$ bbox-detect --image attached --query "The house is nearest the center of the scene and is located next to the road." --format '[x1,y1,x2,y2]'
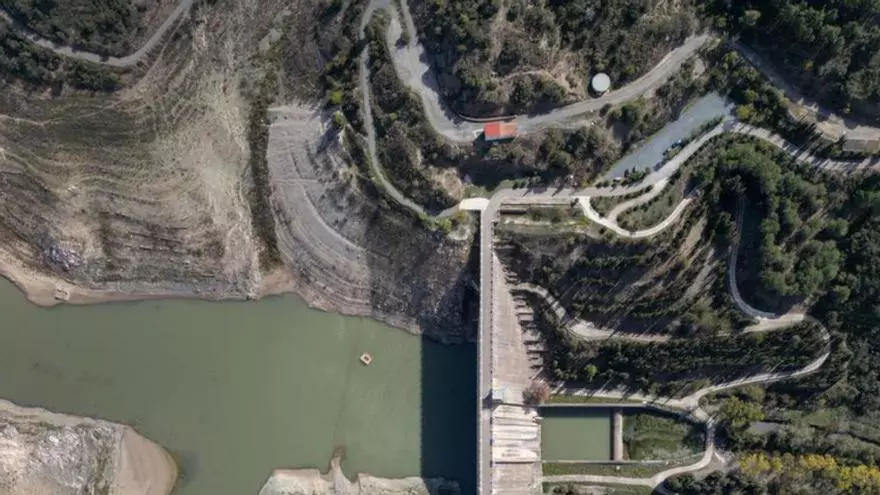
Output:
[475,123,517,141]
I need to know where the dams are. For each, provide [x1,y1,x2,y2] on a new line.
[475,191,546,495]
